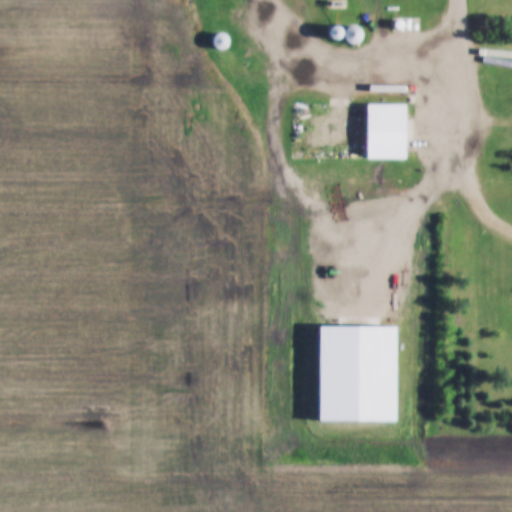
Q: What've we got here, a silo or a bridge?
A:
silo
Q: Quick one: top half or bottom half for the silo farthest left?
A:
top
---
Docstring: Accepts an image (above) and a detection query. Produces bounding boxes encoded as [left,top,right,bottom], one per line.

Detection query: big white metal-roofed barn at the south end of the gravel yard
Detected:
[319,324,398,422]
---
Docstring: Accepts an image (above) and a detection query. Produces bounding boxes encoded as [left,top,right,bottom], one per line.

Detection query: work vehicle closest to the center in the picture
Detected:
[326,266,342,279]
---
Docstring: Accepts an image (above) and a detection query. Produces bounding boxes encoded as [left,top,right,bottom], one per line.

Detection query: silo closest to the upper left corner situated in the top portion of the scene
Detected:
[212,32,232,52]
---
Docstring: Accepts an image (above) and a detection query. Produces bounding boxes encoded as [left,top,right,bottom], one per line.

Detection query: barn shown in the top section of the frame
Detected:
[366,102,407,160]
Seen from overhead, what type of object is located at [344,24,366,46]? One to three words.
silo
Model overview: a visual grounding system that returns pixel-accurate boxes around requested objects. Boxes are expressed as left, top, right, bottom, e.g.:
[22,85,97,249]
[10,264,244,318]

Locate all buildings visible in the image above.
[319,324,398,422]
[366,102,407,160]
